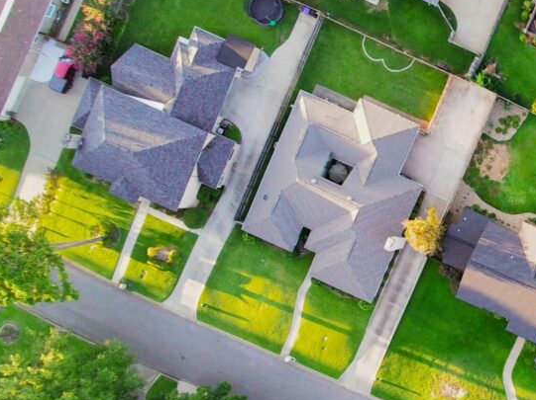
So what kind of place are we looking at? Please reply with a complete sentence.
This image shows a residential area.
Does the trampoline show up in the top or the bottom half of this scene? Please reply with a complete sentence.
The trampoline sits in the top half of the picture.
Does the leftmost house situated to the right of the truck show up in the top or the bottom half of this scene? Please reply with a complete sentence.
The leftmost house situated to the right of the truck is in the top half of the image.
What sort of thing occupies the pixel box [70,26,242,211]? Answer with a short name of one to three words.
house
